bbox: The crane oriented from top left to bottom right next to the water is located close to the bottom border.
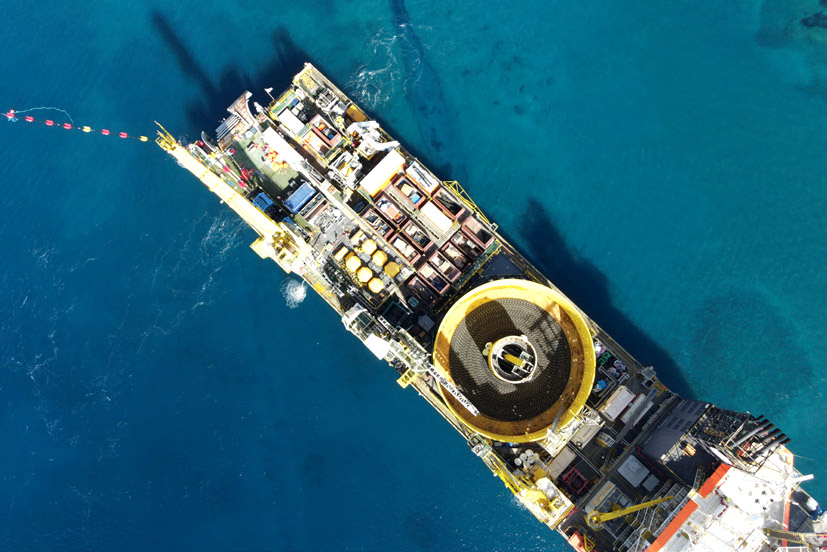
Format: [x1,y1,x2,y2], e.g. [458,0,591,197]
[470,430,577,525]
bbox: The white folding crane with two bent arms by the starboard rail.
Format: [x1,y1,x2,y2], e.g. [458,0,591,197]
[346,120,401,160]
